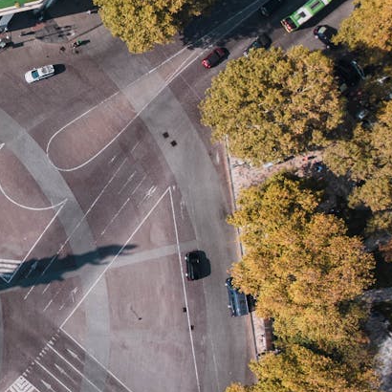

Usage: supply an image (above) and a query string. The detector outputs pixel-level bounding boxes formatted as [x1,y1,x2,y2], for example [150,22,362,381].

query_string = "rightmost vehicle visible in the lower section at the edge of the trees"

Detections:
[226,278,251,314]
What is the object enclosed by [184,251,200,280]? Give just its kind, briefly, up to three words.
car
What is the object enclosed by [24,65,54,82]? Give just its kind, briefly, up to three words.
car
